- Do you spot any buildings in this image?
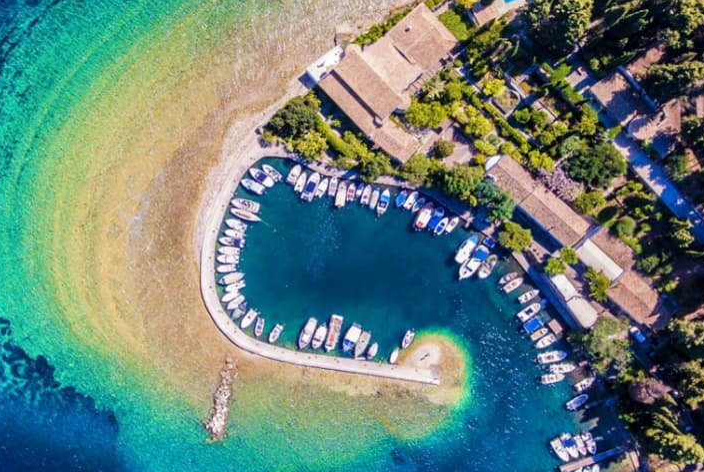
Yes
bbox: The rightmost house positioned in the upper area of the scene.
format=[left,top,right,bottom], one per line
[626,102,682,159]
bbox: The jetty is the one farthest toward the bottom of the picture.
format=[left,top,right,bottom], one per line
[559,443,625,472]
